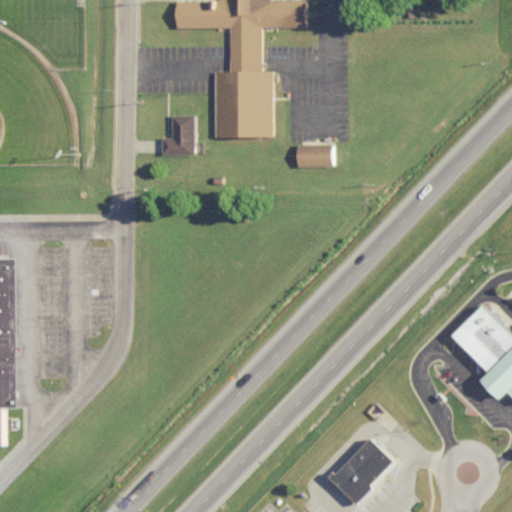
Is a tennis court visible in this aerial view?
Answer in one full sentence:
No, the photo shows no tennis court.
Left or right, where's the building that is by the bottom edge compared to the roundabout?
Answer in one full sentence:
The building that is by the bottom edge can be seen on the left of the roundabout.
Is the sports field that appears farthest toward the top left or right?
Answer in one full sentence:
You can find the sports field that appears farthest toward the top on the left side of the picture.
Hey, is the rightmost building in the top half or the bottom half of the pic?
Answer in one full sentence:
You can find the rightmost building in the bottom half.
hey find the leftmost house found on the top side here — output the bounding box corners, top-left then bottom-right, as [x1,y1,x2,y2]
[162,117,204,154]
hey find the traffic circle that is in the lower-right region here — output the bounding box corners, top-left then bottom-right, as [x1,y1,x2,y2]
[434,441,500,512]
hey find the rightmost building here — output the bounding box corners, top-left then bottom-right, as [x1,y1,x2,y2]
[451,304,512,401]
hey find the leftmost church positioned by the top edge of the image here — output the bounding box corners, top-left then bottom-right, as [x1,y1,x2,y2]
[172,0,308,138]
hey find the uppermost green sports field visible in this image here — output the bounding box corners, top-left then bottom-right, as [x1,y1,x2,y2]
[0,0,86,72]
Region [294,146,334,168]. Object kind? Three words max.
shed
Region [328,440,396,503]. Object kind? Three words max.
building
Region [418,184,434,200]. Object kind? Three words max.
vehicle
